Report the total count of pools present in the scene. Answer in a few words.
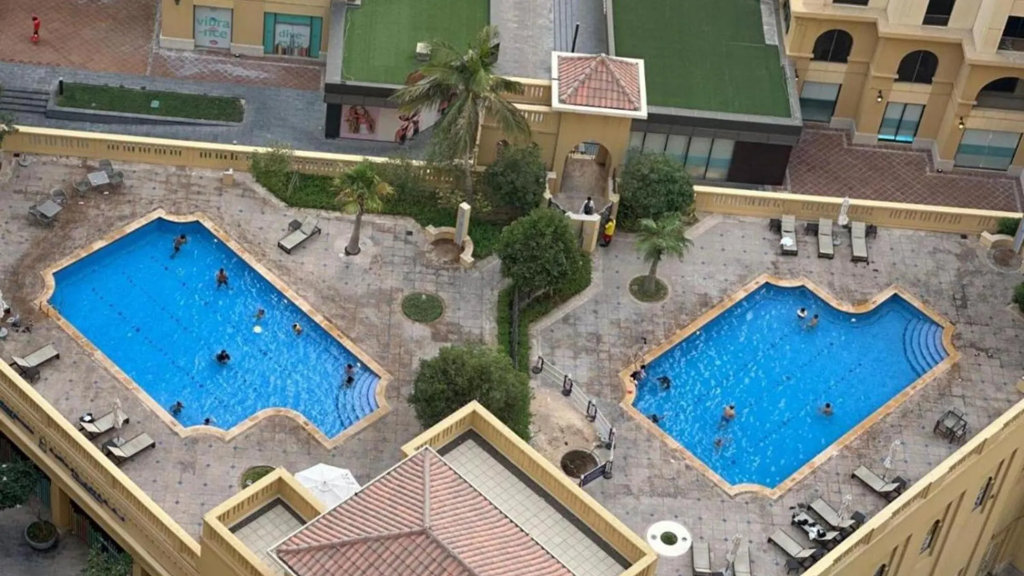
2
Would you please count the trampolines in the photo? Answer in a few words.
0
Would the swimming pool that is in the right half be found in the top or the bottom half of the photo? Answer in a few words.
bottom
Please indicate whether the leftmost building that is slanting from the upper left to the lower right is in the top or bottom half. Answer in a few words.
bottom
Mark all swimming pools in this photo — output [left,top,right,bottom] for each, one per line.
[622,271,960,496]
[38,206,391,447]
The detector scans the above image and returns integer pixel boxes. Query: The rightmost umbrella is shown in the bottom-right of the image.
[879,439,901,483]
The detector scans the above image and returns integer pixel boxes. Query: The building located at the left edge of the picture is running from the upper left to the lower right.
[0,397,185,576]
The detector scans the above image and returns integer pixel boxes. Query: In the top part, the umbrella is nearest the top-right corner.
[834,197,849,247]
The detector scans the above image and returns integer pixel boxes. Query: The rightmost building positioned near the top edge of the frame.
[776,0,1024,185]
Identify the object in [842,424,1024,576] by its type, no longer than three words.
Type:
building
